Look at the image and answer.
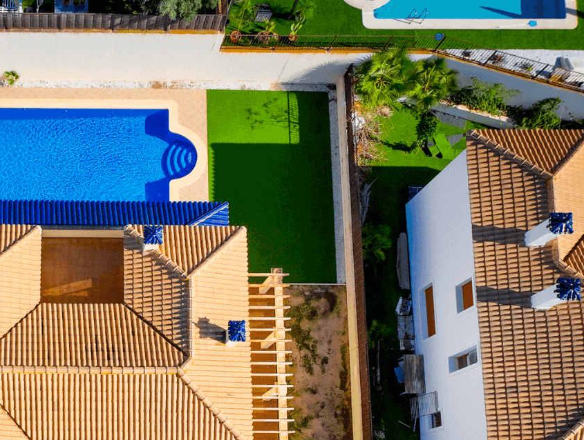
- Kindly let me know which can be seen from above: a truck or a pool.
pool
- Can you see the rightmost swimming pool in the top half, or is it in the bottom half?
top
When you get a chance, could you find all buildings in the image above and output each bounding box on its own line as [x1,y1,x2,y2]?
[0,198,256,440]
[411,128,584,440]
